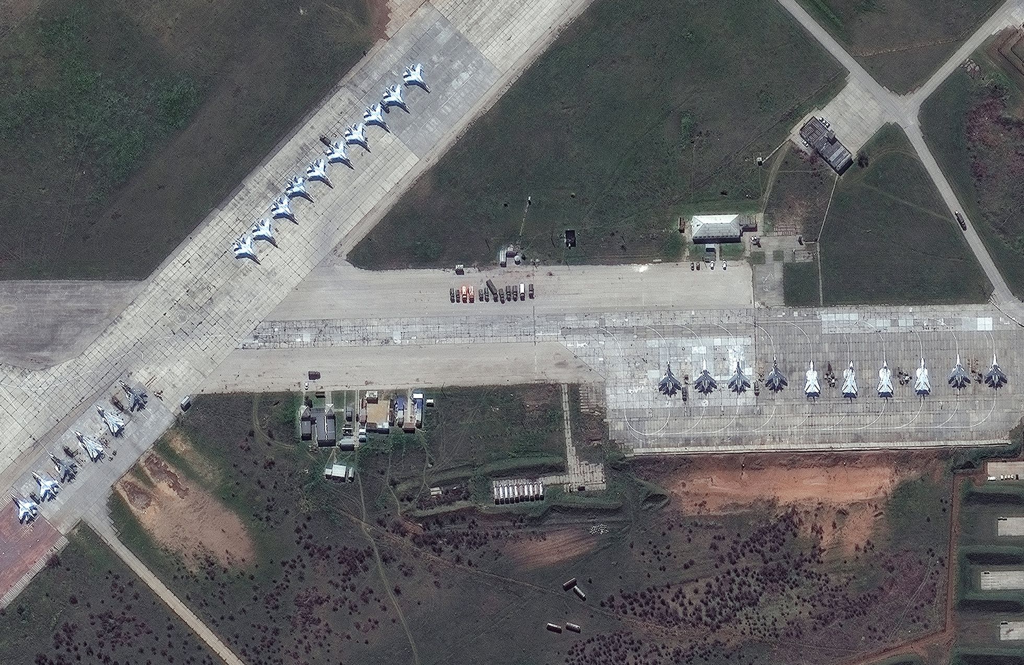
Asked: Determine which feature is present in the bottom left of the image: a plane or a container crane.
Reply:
plane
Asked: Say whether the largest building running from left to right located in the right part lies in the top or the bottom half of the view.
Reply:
top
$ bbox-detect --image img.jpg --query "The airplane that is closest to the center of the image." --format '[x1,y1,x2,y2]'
[657,360,682,396]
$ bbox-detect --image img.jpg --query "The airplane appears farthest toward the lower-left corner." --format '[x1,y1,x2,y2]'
[12,496,41,527]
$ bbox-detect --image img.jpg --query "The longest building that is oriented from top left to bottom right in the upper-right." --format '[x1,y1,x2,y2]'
[800,117,852,171]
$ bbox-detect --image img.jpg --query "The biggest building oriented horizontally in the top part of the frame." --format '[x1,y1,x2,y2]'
[693,216,741,238]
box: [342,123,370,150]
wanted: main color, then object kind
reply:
white airplane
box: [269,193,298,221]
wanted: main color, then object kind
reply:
white airplane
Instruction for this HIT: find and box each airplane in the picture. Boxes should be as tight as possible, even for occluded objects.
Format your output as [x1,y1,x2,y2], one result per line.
[342,123,370,150]
[33,473,61,502]
[119,381,148,411]
[96,406,124,436]
[764,355,788,391]
[304,158,332,186]
[693,358,717,394]
[657,360,682,396]
[878,361,894,395]
[727,360,751,396]
[249,216,277,244]
[231,233,259,262]
[915,358,932,392]
[50,453,79,483]
[76,432,103,462]
[12,496,41,527]
[983,354,1007,390]
[361,102,389,130]
[402,63,430,91]
[804,360,821,395]
[947,355,971,390]
[842,361,858,395]
[382,83,410,111]
[269,193,298,221]
[285,173,314,201]
[324,137,353,165]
